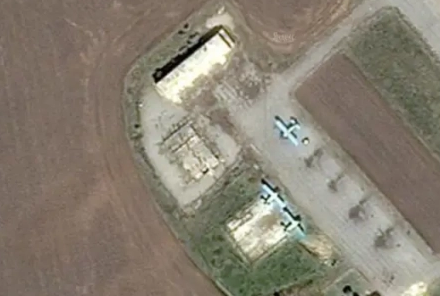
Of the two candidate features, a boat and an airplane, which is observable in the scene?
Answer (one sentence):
I can see an airplane in this picture.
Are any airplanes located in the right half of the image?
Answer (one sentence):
Yes, there is an airplane in the right half of the image.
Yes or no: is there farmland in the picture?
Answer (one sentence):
Yes, the picture does contain farmland.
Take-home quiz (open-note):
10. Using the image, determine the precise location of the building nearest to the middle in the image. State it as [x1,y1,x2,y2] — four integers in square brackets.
[150,111,233,186]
